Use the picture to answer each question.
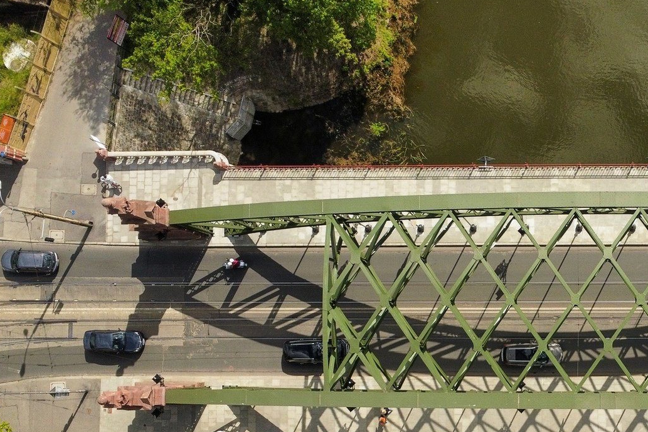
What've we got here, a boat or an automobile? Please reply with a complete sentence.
Visible in the photo is an automobile.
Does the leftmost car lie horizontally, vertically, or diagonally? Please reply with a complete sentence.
Seen from above, the leftmost car lies horizontally.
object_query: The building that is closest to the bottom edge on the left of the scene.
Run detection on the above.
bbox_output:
[0,130,30,160]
